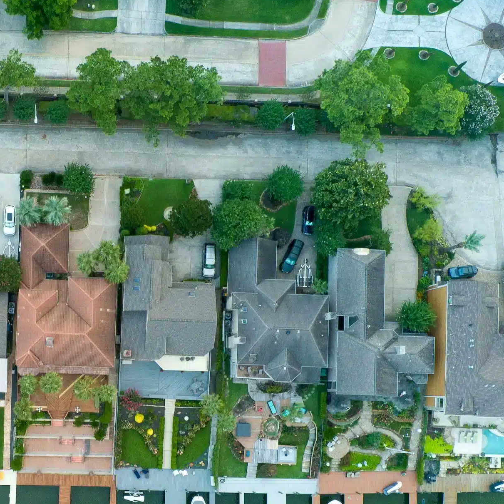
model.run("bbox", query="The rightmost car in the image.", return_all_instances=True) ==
[447,264,479,279]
